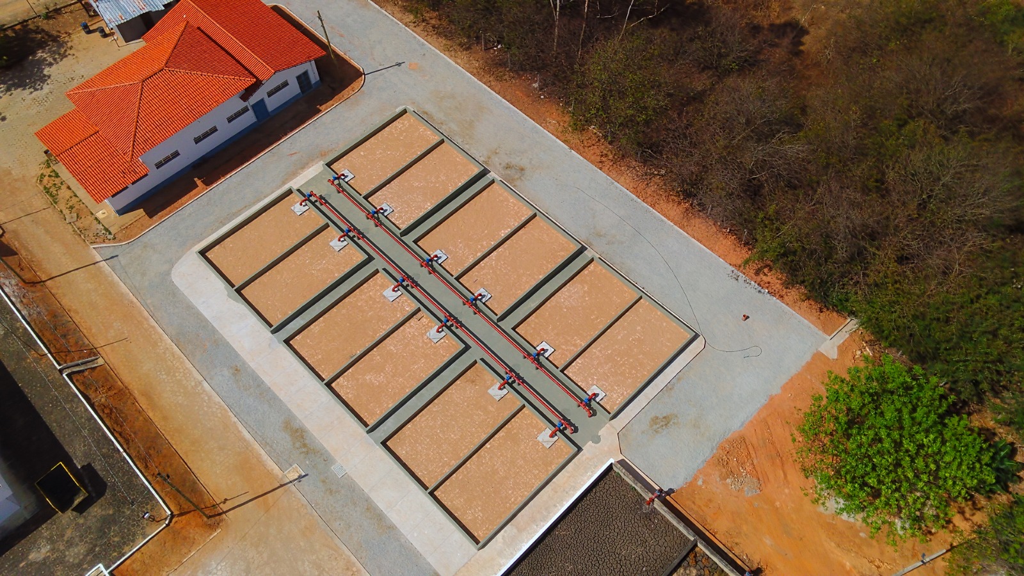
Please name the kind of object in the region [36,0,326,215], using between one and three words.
building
